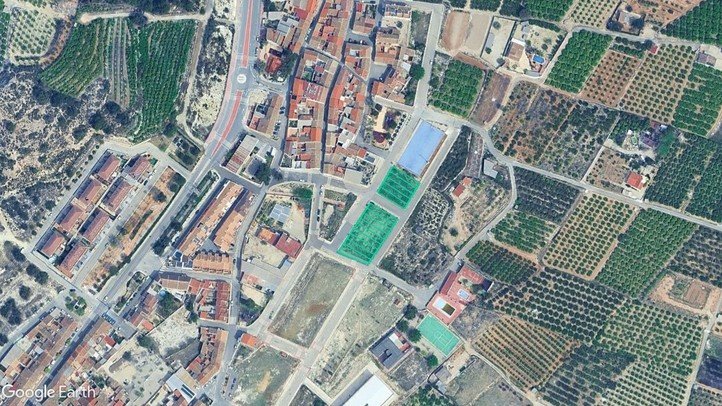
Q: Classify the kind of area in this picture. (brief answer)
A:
residential area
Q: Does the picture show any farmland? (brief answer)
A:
Yes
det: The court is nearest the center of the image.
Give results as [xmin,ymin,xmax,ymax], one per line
[395,119,450,178]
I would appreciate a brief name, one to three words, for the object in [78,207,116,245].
house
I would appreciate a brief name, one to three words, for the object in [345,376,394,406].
building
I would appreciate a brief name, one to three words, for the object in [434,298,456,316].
swimming pool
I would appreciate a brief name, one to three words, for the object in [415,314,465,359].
sports court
